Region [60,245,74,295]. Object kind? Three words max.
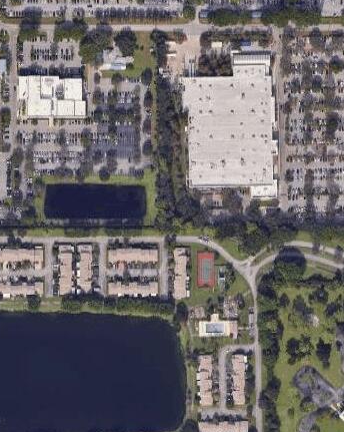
house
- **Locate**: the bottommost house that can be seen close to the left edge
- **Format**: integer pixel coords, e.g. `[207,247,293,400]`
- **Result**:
[0,281,43,298]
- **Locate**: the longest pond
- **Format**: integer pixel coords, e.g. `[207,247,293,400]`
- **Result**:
[43,184,148,220]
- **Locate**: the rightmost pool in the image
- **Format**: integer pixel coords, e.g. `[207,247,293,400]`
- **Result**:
[199,321,231,337]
